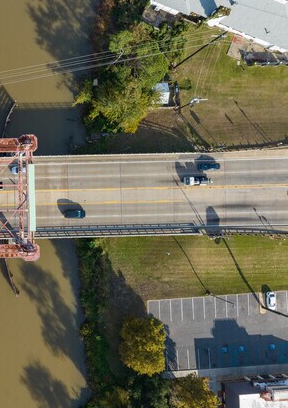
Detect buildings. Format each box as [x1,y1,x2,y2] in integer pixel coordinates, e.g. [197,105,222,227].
[145,84,166,100]
[143,0,288,56]
[222,366,288,408]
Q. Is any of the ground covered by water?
Yes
